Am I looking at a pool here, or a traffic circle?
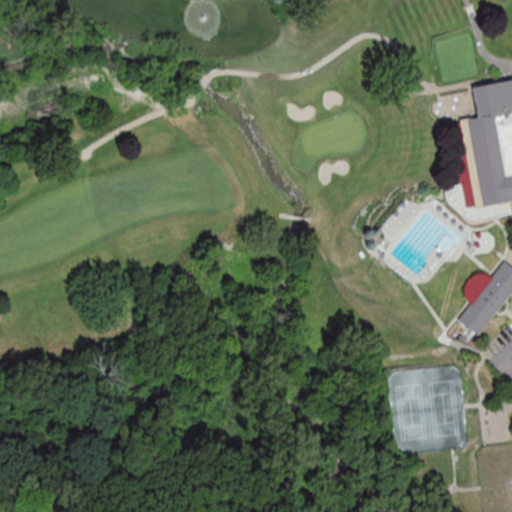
pool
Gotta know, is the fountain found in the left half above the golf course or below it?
above it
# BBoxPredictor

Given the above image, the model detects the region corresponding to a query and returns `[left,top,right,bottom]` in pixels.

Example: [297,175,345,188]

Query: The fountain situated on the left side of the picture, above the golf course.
[184,0,221,38]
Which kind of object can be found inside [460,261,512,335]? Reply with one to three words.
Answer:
building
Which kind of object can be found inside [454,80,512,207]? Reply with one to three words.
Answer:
building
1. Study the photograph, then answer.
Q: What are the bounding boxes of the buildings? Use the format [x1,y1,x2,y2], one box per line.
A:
[460,261,512,335]
[454,80,512,207]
